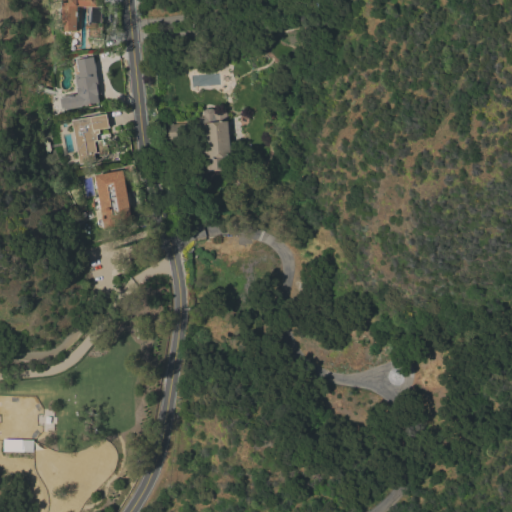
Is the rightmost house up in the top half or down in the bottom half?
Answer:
top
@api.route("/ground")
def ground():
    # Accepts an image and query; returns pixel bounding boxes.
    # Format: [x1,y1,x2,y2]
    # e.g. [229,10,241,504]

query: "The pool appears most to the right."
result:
[192,74,222,87]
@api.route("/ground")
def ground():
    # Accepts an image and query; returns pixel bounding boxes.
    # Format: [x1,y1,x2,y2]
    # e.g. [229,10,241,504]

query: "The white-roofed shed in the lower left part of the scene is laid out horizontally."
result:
[3,440,35,453]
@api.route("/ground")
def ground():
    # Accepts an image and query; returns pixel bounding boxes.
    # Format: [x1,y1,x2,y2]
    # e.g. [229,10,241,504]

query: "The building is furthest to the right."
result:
[202,104,230,173]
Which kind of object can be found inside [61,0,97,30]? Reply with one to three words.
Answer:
house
